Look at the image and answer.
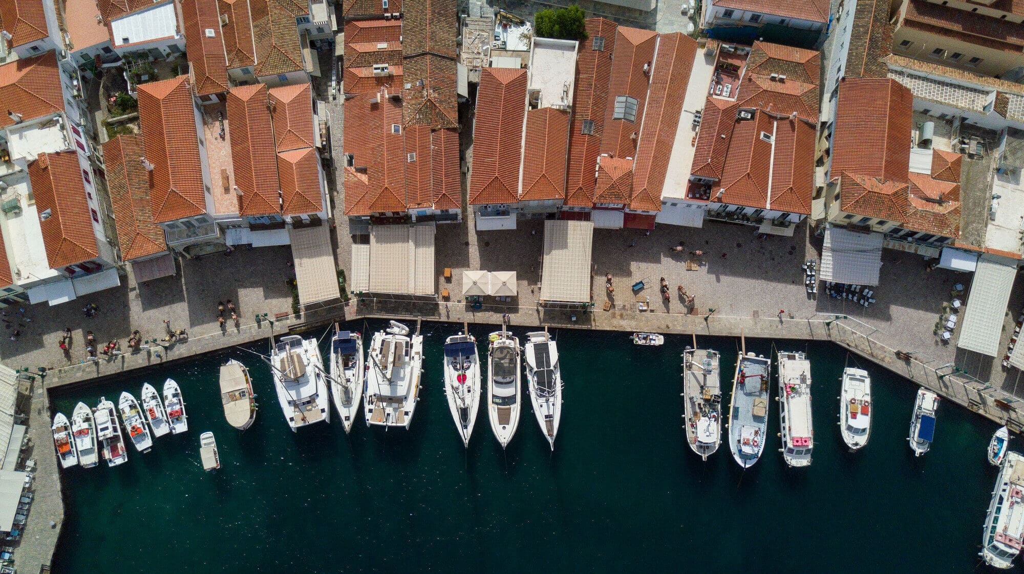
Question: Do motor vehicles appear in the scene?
Yes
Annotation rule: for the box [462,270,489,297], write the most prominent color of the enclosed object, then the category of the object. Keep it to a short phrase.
white umbrella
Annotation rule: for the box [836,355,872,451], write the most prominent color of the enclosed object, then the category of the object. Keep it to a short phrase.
white boat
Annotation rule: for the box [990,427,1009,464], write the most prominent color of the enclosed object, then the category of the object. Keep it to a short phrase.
white boat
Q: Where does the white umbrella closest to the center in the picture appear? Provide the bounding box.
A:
[490,271,517,297]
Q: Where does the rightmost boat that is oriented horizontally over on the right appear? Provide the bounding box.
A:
[630,333,664,345]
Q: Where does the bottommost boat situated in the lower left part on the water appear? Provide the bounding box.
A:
[200,432,220,473]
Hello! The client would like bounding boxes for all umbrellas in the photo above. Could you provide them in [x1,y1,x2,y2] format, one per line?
[490,271,517,297]
[462,270,489,297]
